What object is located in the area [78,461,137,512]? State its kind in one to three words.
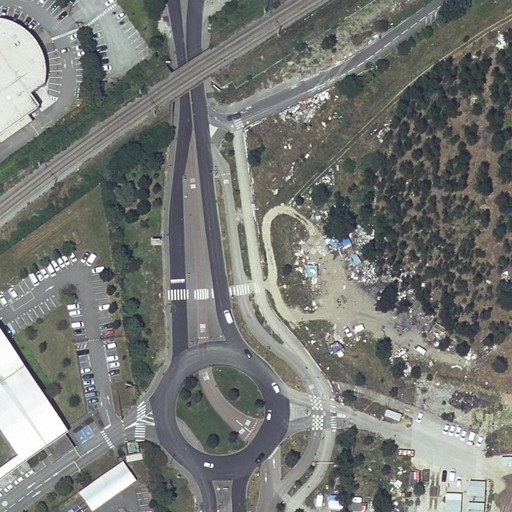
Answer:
building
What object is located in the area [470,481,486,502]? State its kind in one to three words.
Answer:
shed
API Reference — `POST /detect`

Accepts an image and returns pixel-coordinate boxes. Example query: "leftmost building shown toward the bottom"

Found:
[0,326,76,480]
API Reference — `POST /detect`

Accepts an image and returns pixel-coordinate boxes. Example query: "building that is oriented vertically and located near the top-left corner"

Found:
[0,16,58,142]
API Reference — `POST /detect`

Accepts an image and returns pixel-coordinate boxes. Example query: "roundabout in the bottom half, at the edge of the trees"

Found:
[148,333,312,512]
